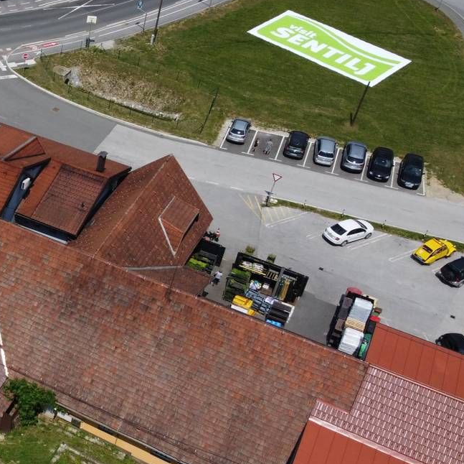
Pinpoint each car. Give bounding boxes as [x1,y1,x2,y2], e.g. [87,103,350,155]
[412,327,464,355]
[322,220,374,250]
[412,239,461,268]
[396,155,424,188]
[285,134,312,160]
[365,150,393,184]
[338,142,368,173]
[226,119,253,146]
[310,139,337,169]
[436,259,464,290]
